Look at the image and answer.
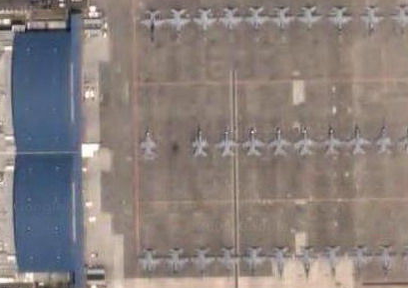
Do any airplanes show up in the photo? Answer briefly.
Yes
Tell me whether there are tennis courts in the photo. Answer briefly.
No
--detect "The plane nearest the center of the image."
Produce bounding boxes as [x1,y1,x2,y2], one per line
[191,125,207,157]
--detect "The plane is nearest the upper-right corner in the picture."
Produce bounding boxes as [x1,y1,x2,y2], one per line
[391,6,408,38]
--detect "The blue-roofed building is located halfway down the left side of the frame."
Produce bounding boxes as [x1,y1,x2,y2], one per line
[11,13,87,286]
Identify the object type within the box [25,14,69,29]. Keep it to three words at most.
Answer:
building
